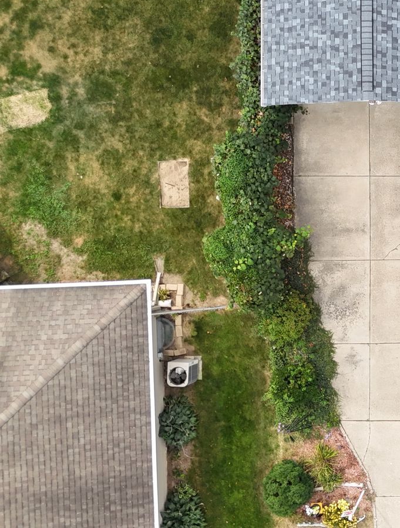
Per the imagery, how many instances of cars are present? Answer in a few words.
none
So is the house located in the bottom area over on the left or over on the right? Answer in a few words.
left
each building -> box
[261,0,400,108]
[0,279,169,528]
